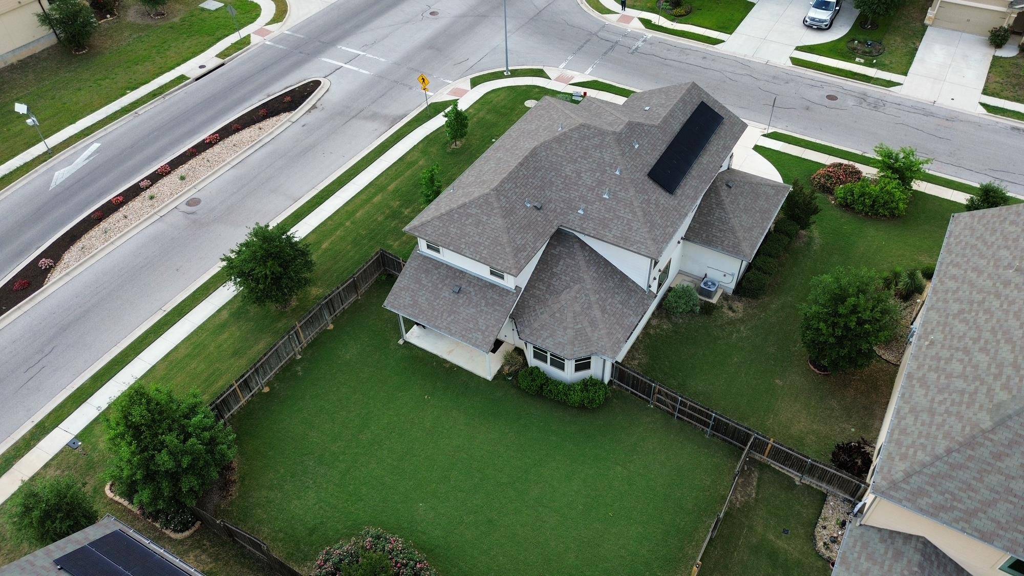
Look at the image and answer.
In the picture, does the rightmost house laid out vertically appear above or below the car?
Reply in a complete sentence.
From this view, the rightmost house laid out vertically can be seen below the car.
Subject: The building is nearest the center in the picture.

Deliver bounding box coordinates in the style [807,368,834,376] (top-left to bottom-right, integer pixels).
[380,80,793,382]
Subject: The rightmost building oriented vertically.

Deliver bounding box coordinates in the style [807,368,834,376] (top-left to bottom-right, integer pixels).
[826,208,1024,576]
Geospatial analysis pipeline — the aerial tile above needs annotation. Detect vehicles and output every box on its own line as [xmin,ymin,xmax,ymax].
[804,0,844,29]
